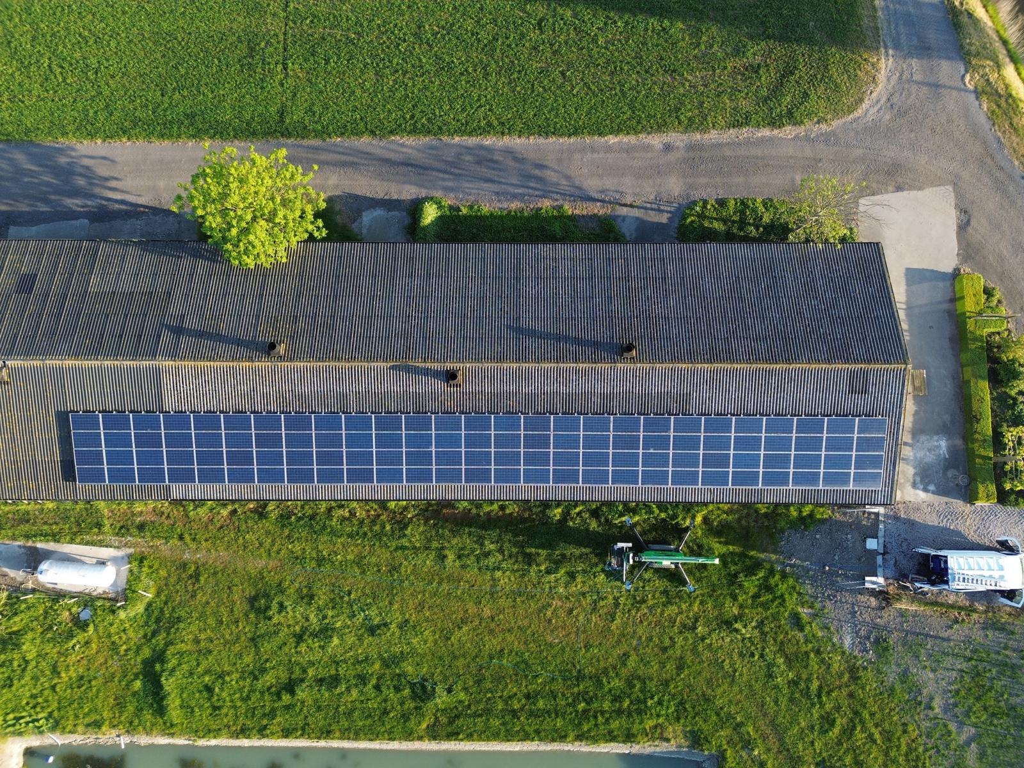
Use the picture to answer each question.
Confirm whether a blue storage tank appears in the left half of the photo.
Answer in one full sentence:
No, I can find no blue storage tank in the left half of the photo.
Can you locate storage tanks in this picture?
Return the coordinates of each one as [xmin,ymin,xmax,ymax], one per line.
[24,560,117,589]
